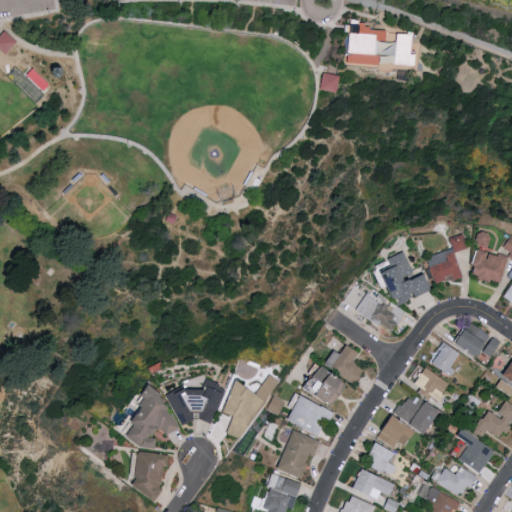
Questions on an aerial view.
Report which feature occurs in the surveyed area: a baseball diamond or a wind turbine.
baseball diamond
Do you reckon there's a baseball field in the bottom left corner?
No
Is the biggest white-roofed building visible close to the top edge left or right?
right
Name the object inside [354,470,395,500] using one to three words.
house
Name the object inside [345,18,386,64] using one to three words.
building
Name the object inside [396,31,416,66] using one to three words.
building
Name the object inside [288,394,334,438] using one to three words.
house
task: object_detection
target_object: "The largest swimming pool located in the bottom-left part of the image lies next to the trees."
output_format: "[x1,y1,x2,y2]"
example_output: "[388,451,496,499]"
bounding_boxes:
[112,411,127,426]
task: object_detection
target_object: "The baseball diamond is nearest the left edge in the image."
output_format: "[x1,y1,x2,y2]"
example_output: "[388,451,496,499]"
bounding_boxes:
[52,171,130,238]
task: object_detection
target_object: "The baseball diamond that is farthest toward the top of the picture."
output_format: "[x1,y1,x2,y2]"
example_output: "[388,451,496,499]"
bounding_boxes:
[69,20,315,204]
